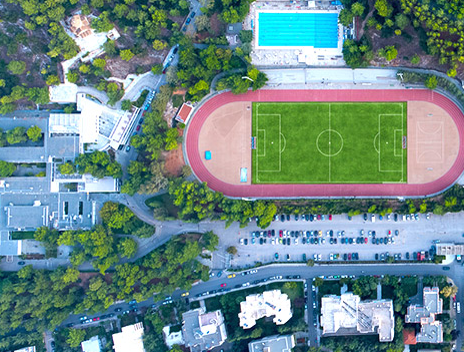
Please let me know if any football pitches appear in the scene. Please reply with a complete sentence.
Yes, looking at the shot, I can spot a football pitch.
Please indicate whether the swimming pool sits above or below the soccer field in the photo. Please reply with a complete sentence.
The position of the swimming pool is above the soccer field.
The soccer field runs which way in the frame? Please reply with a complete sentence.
The soccer field is laid out from side to side.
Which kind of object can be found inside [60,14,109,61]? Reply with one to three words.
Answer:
house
